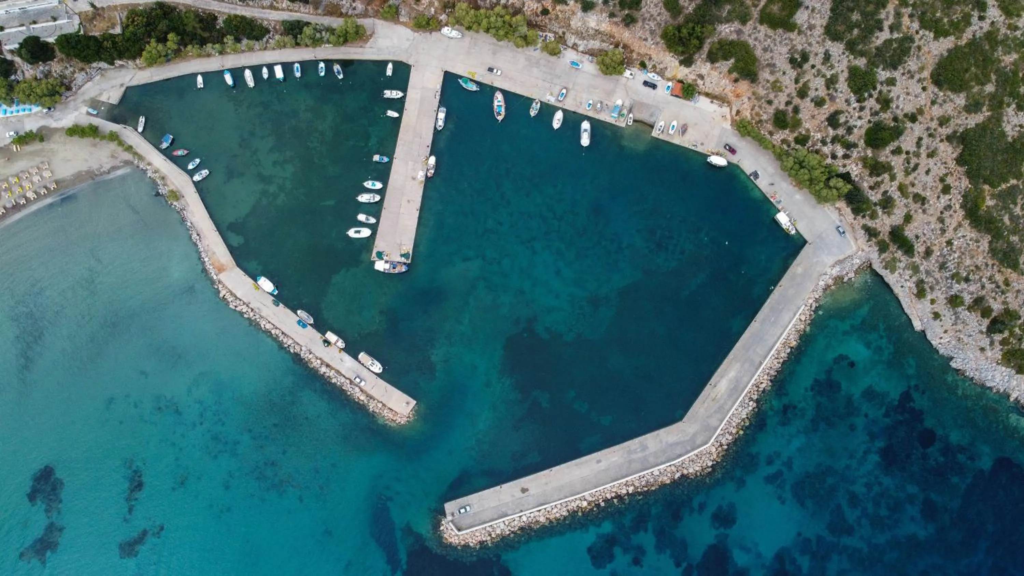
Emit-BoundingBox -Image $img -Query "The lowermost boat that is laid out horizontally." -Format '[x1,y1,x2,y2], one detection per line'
[375,260,408,273]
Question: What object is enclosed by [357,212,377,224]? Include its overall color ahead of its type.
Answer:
white boat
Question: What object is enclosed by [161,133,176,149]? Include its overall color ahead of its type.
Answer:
blue boat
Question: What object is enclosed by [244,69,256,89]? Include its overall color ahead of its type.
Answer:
white boat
